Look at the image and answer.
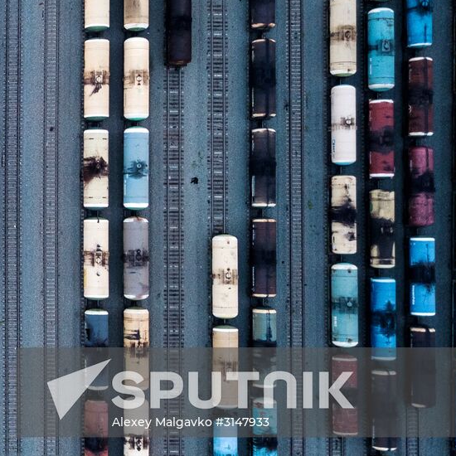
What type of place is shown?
rail yard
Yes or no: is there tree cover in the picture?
No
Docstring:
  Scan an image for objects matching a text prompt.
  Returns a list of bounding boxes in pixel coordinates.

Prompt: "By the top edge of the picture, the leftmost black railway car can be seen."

[166,0,191,71]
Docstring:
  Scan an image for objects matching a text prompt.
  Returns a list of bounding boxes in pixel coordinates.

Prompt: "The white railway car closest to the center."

[209,230,238,321]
